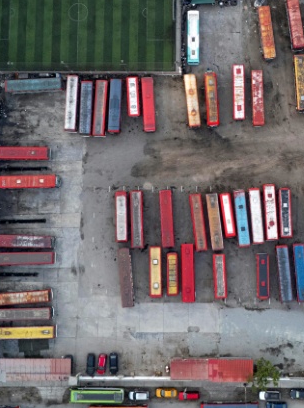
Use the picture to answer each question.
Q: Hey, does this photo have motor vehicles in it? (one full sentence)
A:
Yes, the photo shows a motor vehicle.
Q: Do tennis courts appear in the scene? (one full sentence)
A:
No, no tennis court is visible in the scene.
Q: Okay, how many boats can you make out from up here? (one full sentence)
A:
I count no boats.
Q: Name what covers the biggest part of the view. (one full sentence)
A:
The scene is dominated by paved ground.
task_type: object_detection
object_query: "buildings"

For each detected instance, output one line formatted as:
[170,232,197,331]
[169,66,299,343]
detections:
[0,353,74,382]
[170,355,253,382]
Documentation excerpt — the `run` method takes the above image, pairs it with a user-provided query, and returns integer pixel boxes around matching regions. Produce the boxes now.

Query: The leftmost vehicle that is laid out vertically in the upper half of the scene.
[63,76,81,133]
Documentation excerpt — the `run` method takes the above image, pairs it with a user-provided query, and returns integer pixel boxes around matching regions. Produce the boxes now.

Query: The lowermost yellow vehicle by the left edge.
[0,322,59,339]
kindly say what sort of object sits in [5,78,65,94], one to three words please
vehicle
